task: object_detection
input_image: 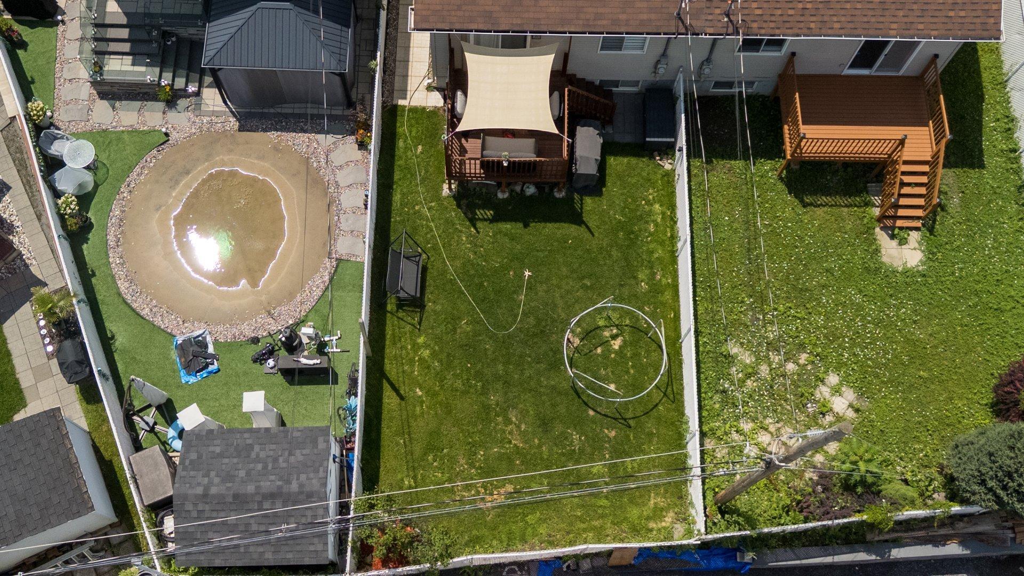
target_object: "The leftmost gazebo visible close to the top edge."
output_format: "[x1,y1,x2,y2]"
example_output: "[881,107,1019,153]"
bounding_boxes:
[200,0,363,114]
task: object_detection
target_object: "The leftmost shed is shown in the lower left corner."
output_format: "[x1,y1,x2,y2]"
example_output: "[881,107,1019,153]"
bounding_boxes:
[0,407,117,569]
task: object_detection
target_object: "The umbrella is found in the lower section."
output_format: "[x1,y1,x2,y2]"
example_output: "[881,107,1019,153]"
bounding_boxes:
[124,377,171,441]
